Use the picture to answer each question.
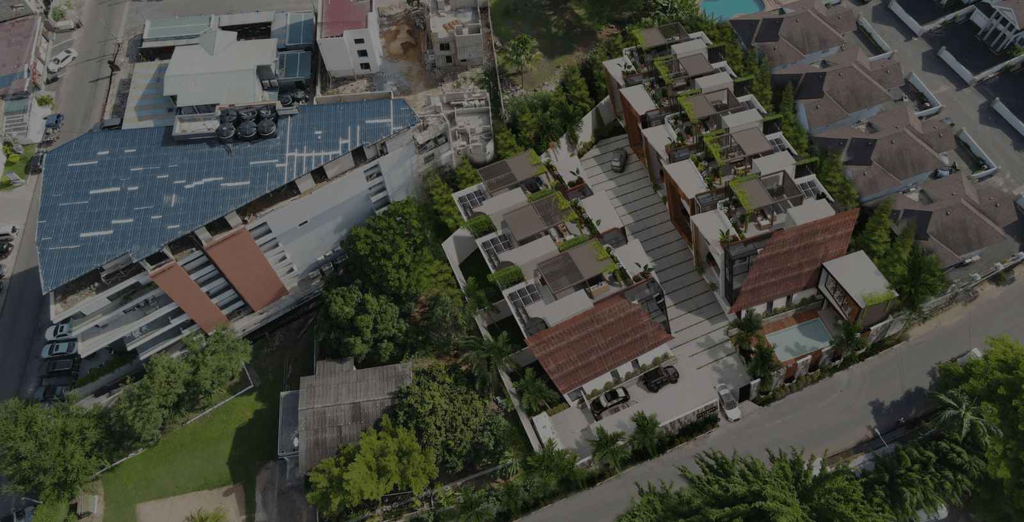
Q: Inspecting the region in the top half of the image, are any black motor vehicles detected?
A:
Yes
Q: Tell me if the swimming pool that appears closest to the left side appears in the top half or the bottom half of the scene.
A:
top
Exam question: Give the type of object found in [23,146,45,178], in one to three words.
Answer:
car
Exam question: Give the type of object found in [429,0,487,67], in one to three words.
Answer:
house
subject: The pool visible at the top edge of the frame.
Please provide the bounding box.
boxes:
[698,0,766,22]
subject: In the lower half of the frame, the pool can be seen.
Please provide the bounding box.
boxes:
[757,307,860,370]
